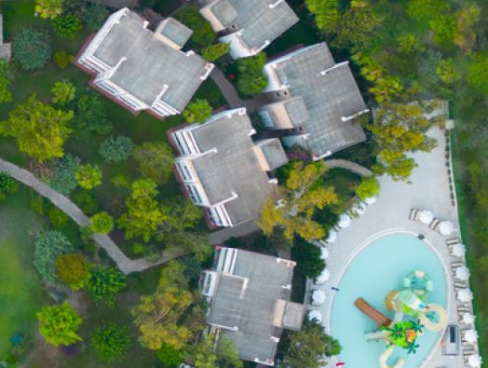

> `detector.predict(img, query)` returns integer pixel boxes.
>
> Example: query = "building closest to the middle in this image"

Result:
[171,110,288,234]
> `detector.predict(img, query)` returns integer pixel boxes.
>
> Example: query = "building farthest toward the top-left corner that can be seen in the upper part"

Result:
[86,6,215,128]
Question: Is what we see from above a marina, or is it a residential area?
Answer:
residential area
